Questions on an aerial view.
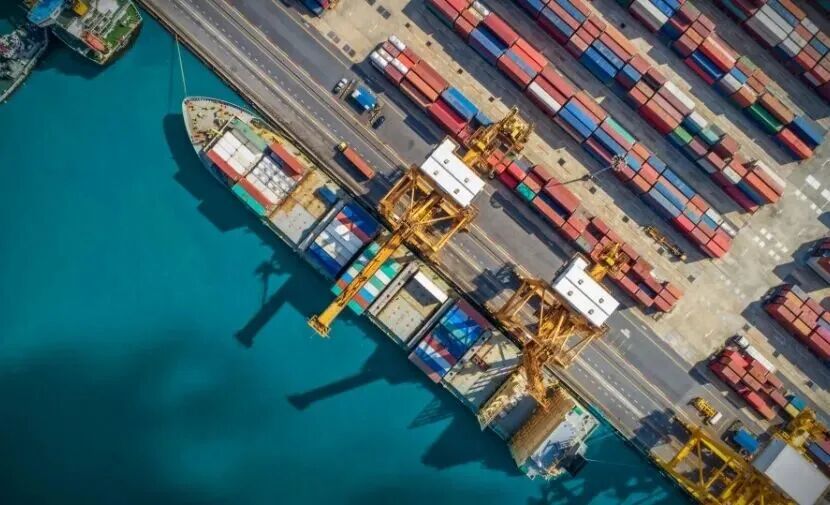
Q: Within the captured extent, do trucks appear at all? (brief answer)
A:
Yes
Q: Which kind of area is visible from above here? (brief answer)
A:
port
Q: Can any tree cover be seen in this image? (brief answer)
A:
No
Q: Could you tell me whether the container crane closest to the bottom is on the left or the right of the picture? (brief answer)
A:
right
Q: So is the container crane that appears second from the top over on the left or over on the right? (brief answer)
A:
right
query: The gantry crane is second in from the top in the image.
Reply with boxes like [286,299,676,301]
[481,245,644,430]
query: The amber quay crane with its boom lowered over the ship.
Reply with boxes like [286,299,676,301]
[303,105,524,333]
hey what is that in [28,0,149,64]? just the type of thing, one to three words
ship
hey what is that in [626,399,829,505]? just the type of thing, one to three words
container crane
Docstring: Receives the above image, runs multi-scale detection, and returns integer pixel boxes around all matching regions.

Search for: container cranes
[481,245,644,430]
[626,399,829,505]
[303,105,524,333]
